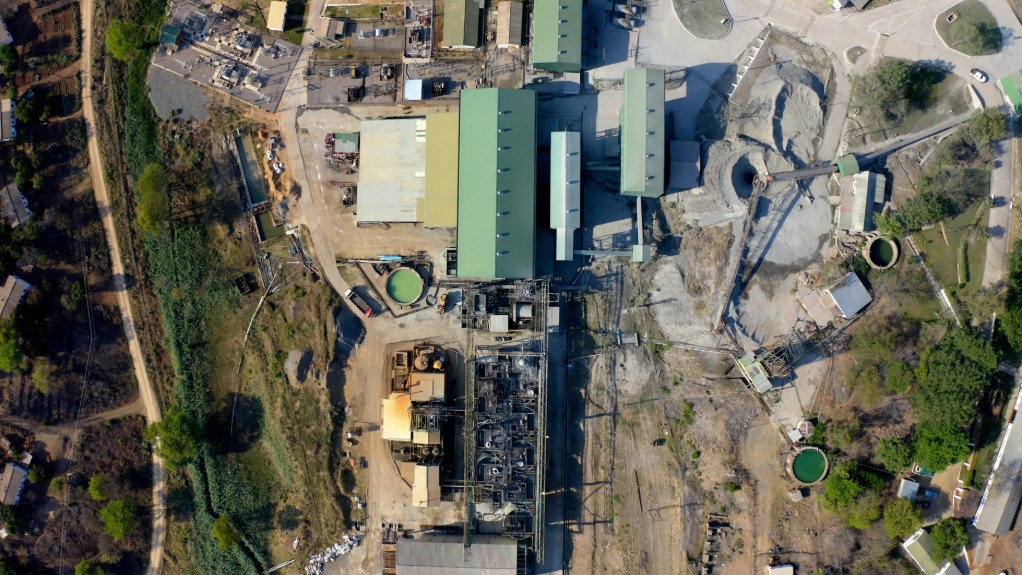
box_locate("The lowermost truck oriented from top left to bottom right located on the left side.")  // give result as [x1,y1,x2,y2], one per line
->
[342,289,373,318]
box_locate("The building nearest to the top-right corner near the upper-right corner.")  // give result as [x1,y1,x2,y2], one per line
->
[993,73,1022,114]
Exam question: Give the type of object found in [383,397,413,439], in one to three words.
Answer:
shed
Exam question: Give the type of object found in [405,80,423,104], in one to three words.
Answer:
building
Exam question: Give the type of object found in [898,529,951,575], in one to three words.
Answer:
house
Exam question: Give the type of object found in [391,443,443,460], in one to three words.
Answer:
building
